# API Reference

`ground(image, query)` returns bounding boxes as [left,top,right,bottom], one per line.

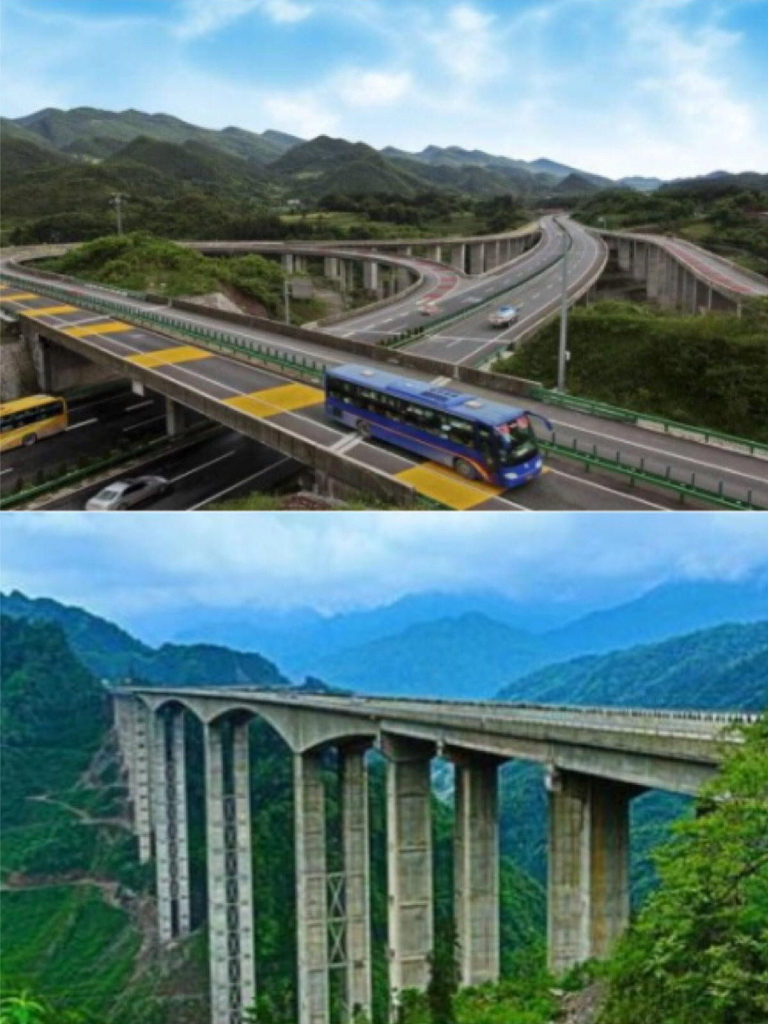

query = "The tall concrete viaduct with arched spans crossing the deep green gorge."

[105,686,768,1024]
